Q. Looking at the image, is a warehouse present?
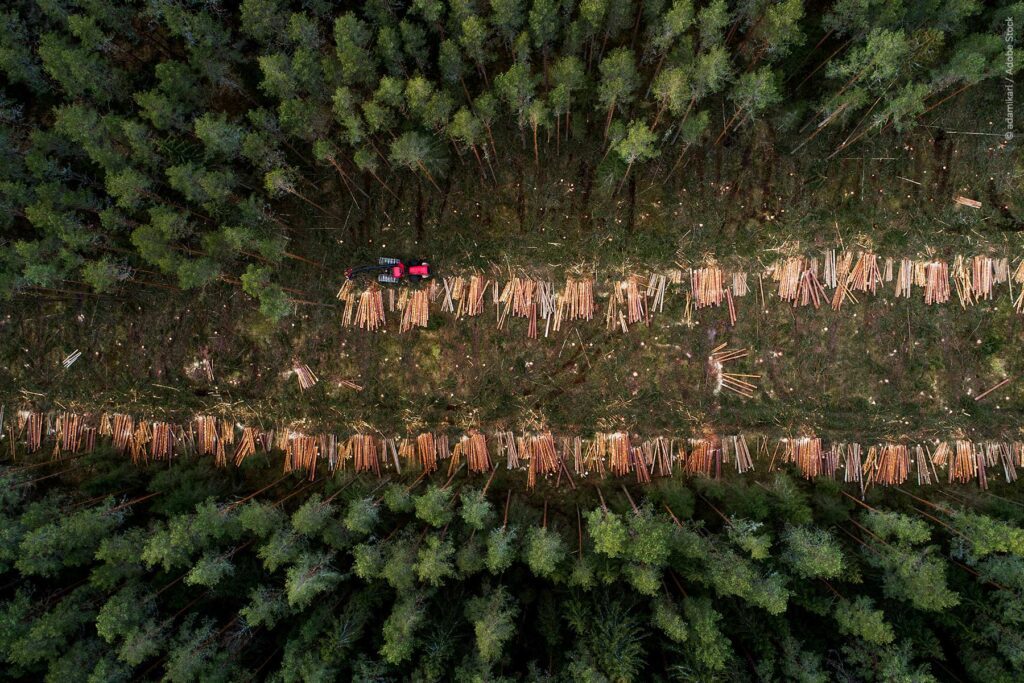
No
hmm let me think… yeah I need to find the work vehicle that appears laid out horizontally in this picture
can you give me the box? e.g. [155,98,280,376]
[344,257,432,283]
